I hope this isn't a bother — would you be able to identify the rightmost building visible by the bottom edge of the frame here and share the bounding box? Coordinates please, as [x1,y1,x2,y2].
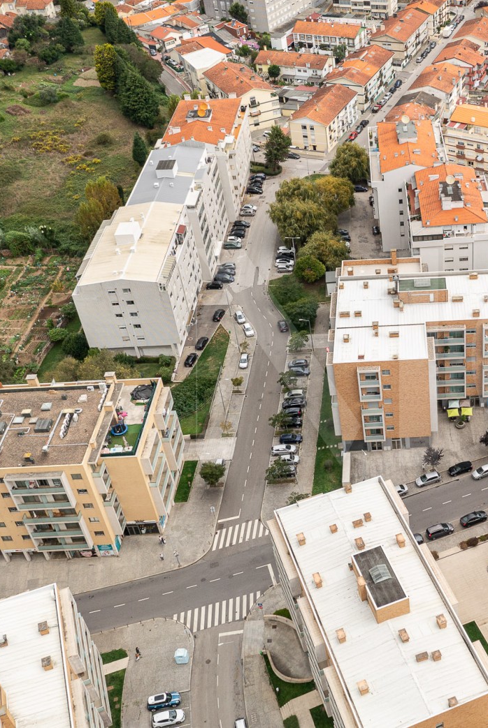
[263,476,488,728]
